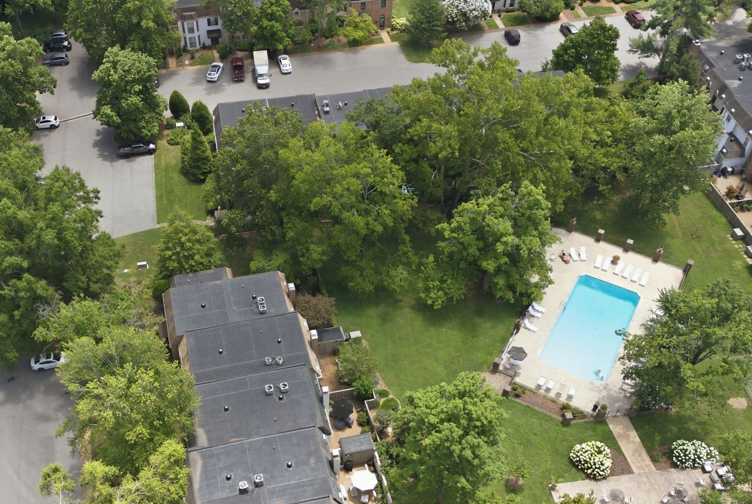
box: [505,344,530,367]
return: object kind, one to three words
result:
umbrella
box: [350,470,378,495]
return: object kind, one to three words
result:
umbrella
